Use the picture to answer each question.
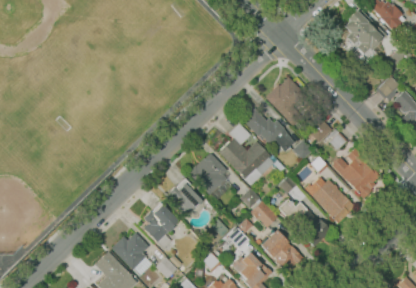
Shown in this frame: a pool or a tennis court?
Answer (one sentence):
The one in the frame is a pool.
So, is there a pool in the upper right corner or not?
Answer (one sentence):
No, there is no pool in the upper right corner.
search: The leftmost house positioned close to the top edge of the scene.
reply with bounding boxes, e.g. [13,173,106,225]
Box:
[346,10,386,52]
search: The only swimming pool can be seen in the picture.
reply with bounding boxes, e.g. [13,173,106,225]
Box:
[185,198,218,234]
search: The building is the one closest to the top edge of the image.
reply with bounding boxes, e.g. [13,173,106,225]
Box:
[373,0,406,28]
